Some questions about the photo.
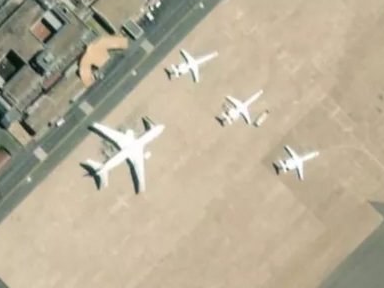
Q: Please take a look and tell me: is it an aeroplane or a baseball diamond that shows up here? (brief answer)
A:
aeroplane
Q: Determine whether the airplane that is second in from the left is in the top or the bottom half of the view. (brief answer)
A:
top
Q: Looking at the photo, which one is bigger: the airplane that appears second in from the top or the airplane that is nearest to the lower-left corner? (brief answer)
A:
the airplane that is nearest to the lower-left corner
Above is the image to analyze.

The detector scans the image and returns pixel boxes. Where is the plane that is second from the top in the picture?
[220,91,262,126]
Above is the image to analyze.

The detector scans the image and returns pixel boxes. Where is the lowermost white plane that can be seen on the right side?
[278,145,318,180]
